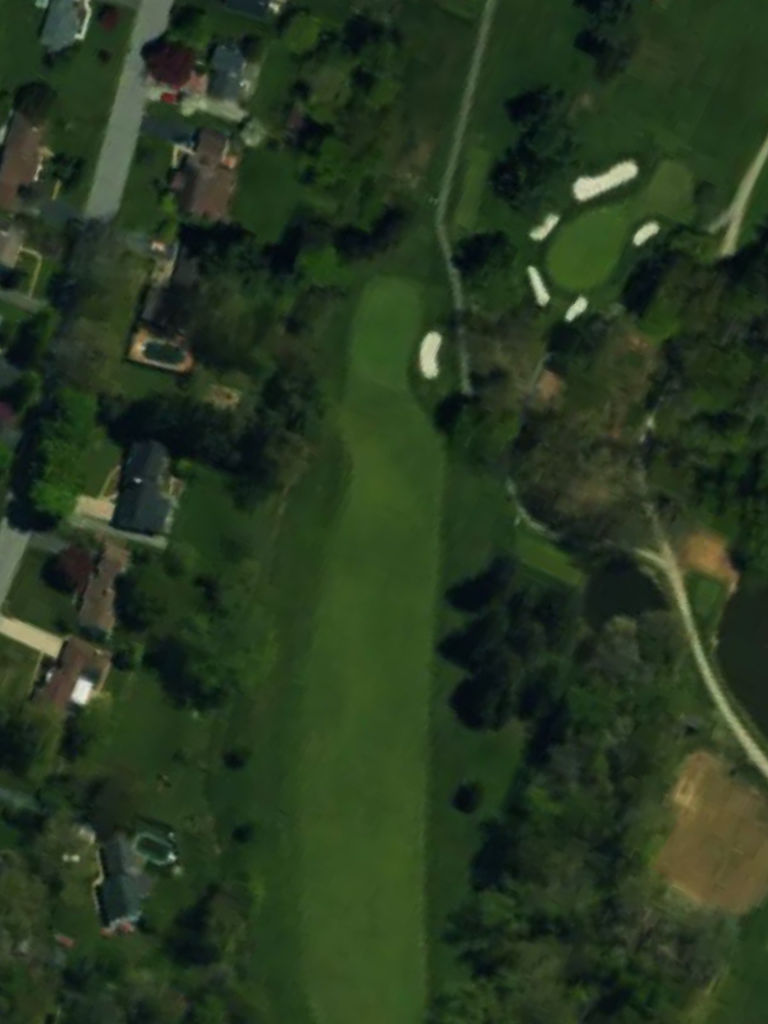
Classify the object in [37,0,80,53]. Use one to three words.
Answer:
house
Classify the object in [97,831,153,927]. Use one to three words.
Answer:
house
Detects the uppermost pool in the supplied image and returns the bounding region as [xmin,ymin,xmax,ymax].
[131,329,194,372]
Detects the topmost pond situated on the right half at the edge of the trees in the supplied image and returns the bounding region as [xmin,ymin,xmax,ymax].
[586,551,667,629]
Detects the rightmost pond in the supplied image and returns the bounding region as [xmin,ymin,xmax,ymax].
[717,560,768,735]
